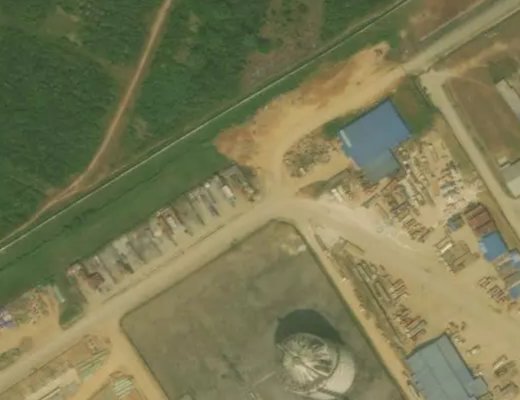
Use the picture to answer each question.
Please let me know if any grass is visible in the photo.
Yes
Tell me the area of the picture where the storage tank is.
bottom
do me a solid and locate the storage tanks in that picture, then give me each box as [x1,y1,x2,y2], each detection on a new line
[276,330,355,400]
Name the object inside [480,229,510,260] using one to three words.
building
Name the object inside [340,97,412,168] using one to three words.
building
